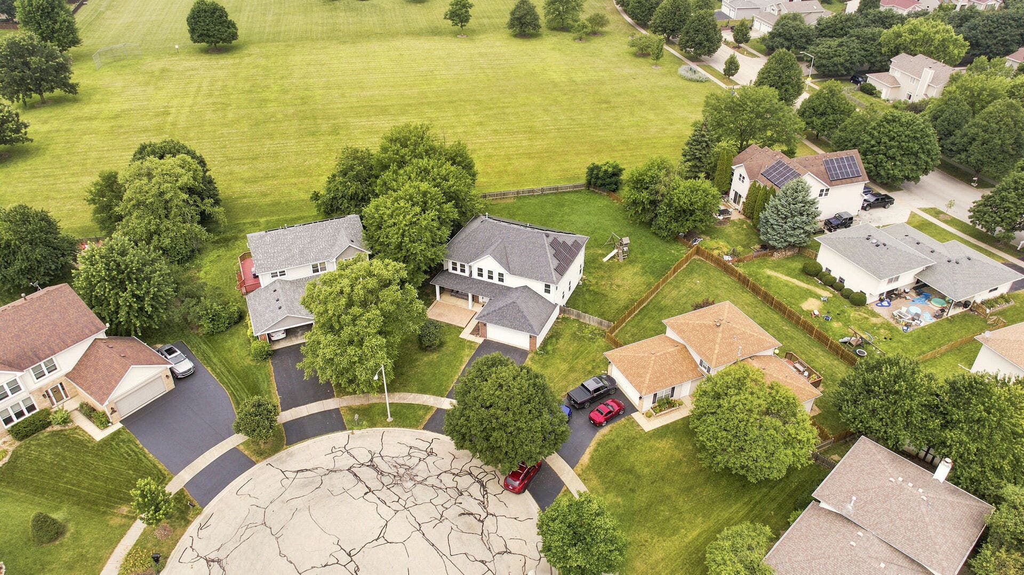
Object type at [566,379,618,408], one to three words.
truck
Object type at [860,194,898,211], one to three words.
vehicle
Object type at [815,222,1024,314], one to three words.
house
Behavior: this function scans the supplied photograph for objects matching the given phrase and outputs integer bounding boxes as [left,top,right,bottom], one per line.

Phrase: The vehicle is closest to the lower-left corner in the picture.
[157,346,190,375]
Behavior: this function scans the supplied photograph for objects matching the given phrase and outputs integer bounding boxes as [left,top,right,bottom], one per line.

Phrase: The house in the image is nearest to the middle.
[429,213,589,351]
